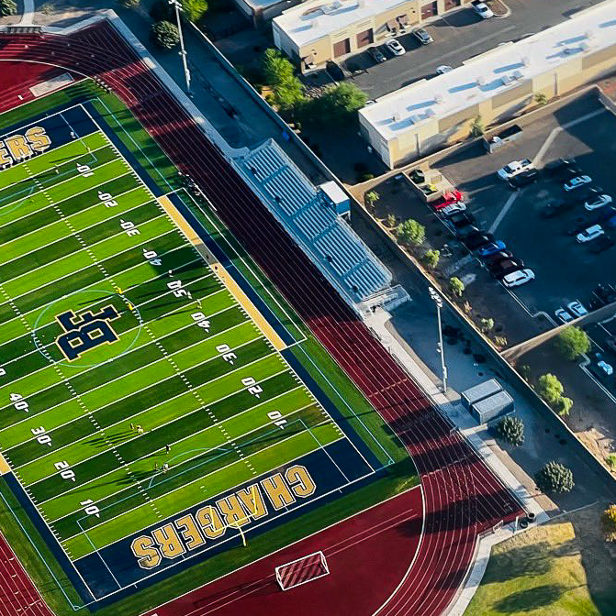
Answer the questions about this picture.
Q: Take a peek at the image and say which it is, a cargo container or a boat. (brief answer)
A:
cargo container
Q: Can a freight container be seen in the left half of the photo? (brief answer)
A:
No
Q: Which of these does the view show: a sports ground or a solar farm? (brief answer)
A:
sports ground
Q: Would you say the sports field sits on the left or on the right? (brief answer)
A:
left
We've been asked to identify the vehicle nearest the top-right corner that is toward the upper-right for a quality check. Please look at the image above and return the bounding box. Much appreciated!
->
[471,0,493,21]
